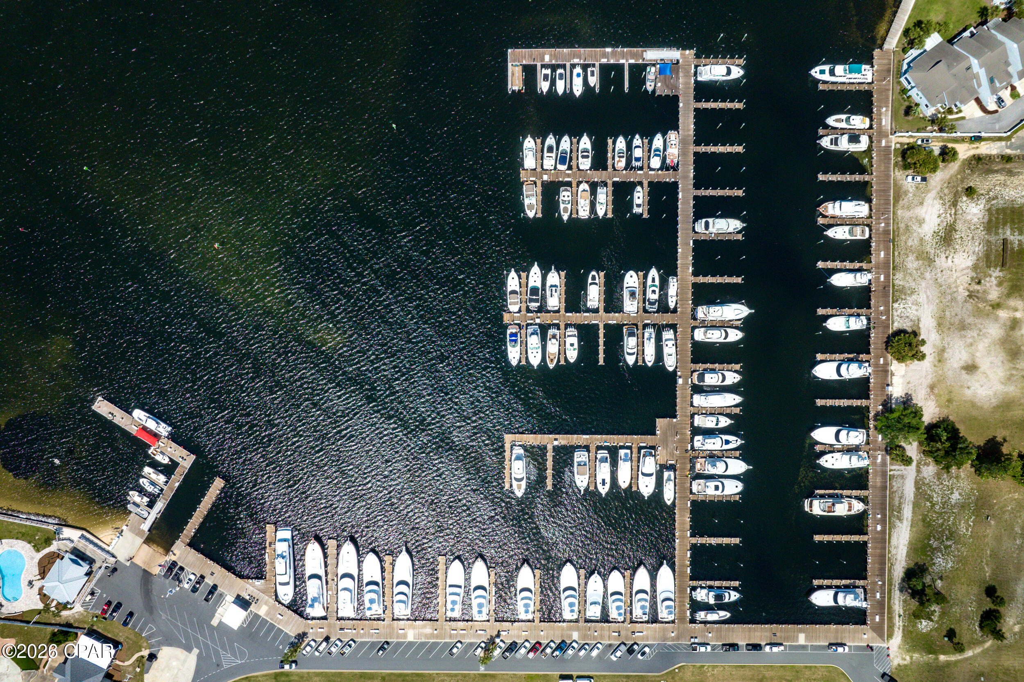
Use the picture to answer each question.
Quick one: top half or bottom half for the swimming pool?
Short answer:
bottom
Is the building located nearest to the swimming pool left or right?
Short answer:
left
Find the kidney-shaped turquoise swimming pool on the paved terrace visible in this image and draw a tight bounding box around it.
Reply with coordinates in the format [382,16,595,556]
[0,548,26,603]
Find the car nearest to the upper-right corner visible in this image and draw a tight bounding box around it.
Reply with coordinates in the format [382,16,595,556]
[993,94,1005,109]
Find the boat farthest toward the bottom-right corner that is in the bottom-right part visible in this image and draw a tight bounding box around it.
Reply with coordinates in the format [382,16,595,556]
[809,588,887,616]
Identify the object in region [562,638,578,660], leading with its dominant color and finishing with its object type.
white vehicle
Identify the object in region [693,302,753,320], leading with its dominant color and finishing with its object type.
white boat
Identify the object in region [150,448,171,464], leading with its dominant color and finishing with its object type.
white boat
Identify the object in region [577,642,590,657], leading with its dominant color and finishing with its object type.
white vehicle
